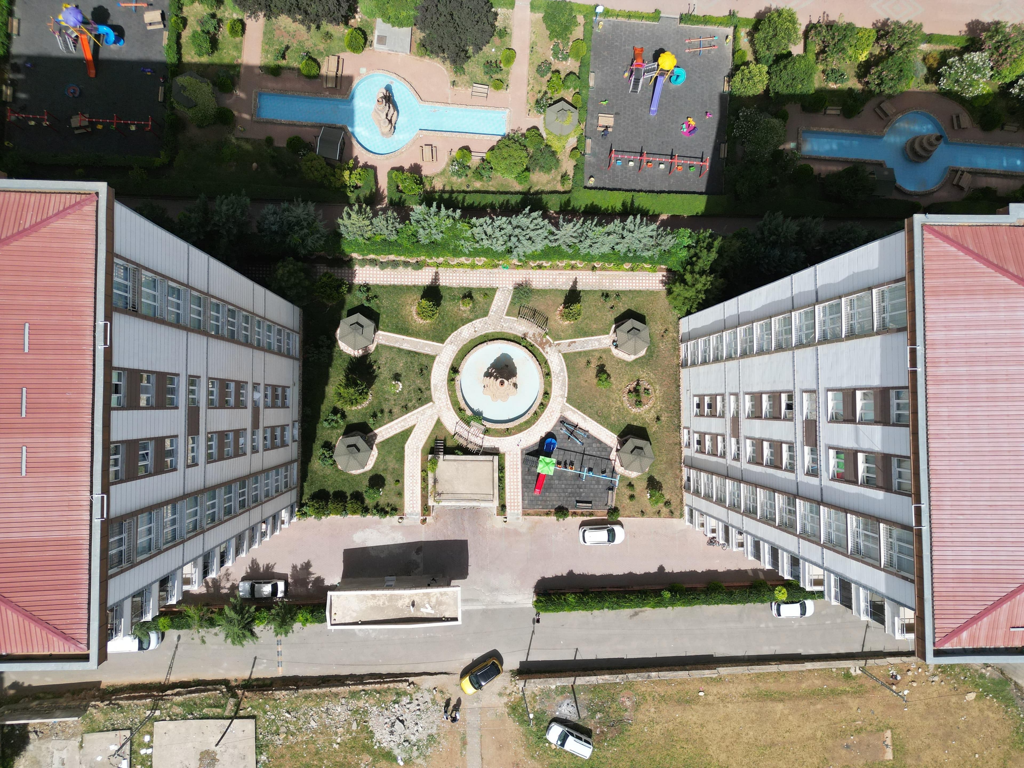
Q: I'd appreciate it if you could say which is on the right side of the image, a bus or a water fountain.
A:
water fountain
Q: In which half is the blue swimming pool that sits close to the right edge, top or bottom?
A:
top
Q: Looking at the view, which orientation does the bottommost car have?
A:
diagonally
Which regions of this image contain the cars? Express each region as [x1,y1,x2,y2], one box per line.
[546,718,594,761]
[239,578,288,600]
[460,655,504,697]
[109,629,161,655]
[770,597,813,620]
[578,523,624,547]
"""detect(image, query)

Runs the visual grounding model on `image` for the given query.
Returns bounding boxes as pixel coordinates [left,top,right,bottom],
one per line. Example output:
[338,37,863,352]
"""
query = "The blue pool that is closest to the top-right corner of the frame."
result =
[800,107,1024,192]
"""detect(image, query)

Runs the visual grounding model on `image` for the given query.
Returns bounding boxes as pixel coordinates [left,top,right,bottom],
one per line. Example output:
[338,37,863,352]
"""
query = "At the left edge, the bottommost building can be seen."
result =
[0,180,299,670]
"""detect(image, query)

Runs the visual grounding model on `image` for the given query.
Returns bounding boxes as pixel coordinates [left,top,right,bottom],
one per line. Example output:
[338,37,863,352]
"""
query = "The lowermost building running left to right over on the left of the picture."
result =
[326,574,461,629]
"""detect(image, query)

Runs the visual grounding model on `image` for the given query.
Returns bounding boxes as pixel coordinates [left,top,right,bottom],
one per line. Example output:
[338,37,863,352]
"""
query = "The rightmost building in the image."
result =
[682,203,1024,664]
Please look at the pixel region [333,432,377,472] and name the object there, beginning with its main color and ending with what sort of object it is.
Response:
gray gazebo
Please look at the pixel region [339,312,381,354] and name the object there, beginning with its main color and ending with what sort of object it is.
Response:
gray gazebo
